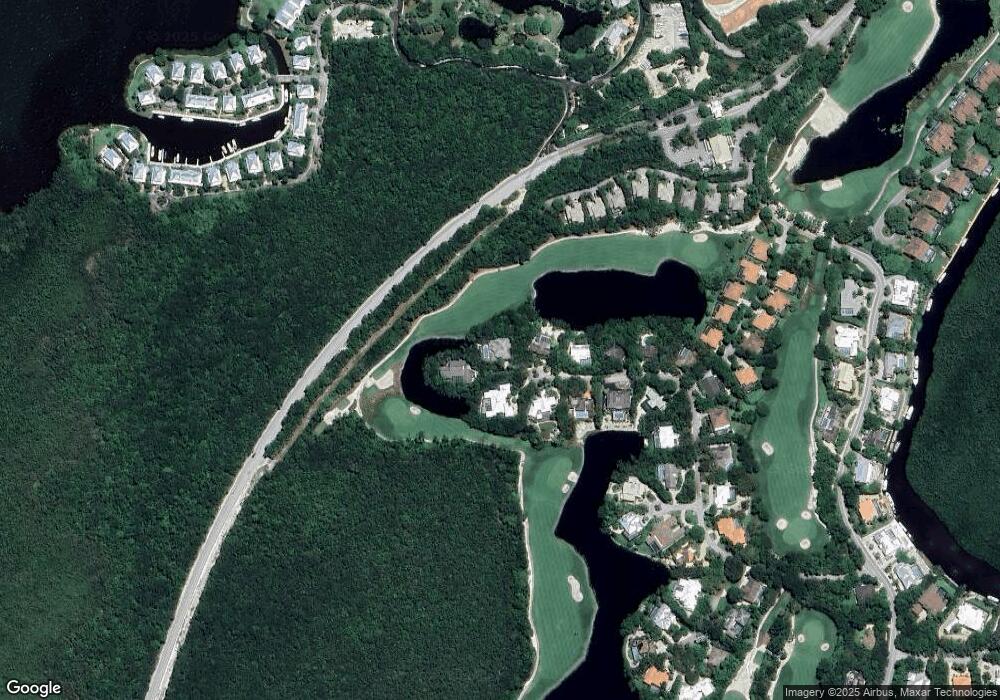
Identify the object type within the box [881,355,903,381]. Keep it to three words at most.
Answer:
house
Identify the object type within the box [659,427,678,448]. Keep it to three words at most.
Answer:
house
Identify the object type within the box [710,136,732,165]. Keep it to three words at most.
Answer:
building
